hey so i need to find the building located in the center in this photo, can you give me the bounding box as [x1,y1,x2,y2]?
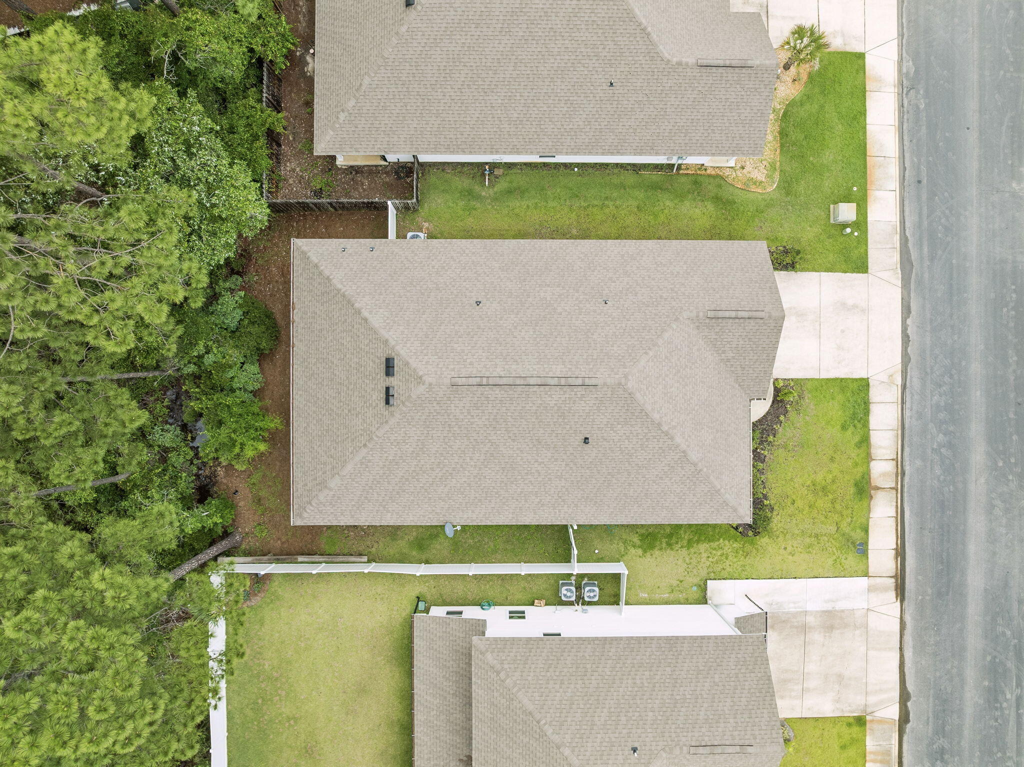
[291,237,783,527]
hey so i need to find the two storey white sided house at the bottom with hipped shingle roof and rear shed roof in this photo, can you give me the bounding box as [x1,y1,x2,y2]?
[412,594,784,767]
